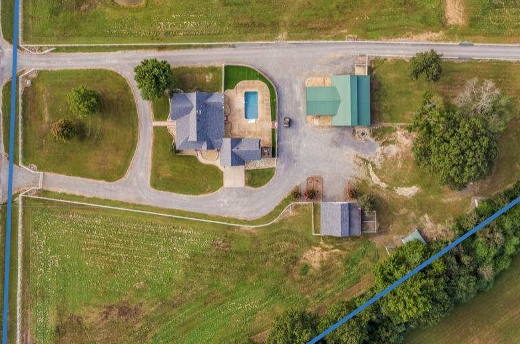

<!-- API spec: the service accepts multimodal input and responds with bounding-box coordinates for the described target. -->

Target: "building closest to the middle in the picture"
[221,138,261,166]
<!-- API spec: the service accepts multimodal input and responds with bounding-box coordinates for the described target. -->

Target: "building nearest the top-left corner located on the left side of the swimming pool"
[171,92,225,149]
